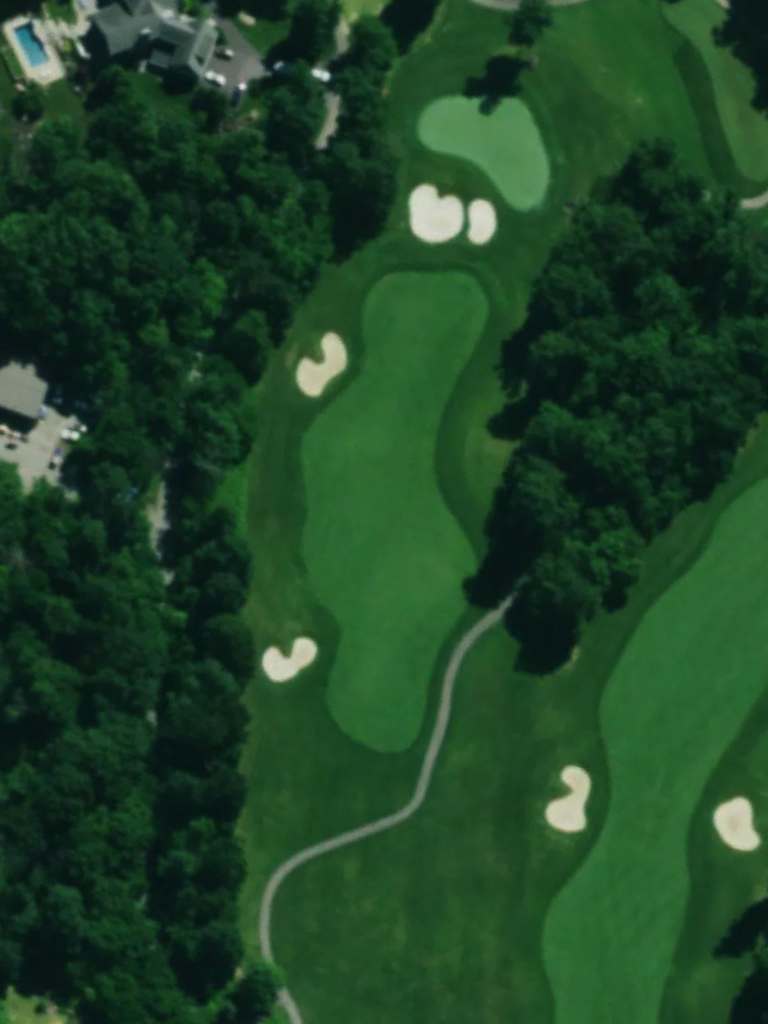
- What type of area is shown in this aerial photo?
golf course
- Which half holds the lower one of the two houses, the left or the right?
left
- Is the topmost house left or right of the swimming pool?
right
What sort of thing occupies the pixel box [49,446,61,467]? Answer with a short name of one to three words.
vehicle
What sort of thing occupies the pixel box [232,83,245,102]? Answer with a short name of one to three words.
vehicle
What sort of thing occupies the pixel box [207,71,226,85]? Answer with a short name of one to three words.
car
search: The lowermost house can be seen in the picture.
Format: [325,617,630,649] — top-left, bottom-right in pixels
[0,365,53,425]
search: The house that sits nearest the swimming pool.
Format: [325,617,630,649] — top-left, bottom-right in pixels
[93,0,219,82]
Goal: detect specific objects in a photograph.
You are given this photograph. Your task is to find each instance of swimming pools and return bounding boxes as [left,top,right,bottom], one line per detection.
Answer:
[4,15,66,87]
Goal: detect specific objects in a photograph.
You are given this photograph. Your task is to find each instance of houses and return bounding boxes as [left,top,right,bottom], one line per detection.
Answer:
[93,0,219,82]
[0,365,53,425]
